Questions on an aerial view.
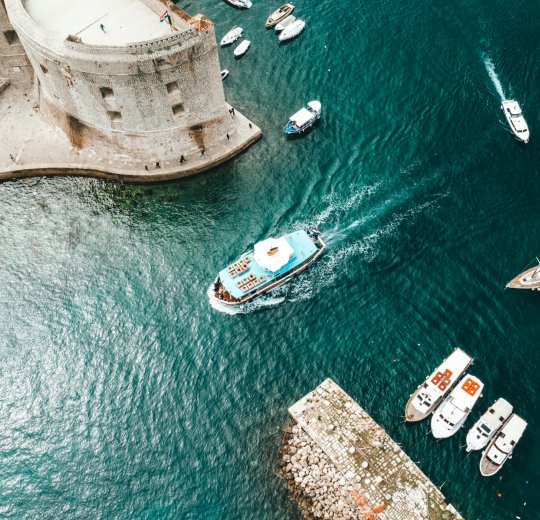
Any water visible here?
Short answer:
Yes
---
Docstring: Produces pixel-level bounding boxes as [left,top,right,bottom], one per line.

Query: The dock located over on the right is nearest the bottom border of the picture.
[288,378,467,520]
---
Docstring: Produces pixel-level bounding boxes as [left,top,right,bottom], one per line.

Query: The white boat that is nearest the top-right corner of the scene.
[499,96,532,141]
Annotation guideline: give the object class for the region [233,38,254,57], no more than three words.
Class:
boat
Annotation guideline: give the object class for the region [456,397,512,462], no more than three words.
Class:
boat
